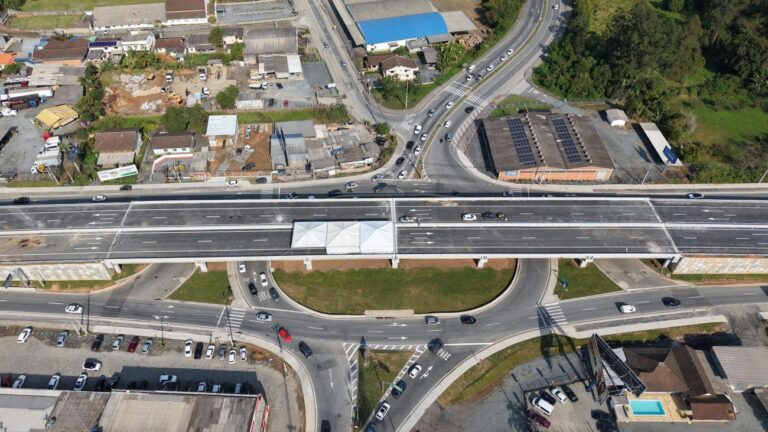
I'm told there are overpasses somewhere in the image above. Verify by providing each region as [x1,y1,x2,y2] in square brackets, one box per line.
[0,199,768,267]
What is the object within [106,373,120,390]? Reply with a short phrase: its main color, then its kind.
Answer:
black car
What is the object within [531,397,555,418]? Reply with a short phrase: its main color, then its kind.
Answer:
white vehicle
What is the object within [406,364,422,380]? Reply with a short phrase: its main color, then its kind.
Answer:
white car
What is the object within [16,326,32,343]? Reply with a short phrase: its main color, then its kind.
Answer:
white car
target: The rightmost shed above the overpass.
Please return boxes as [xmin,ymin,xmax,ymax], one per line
[640,123,680,172]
